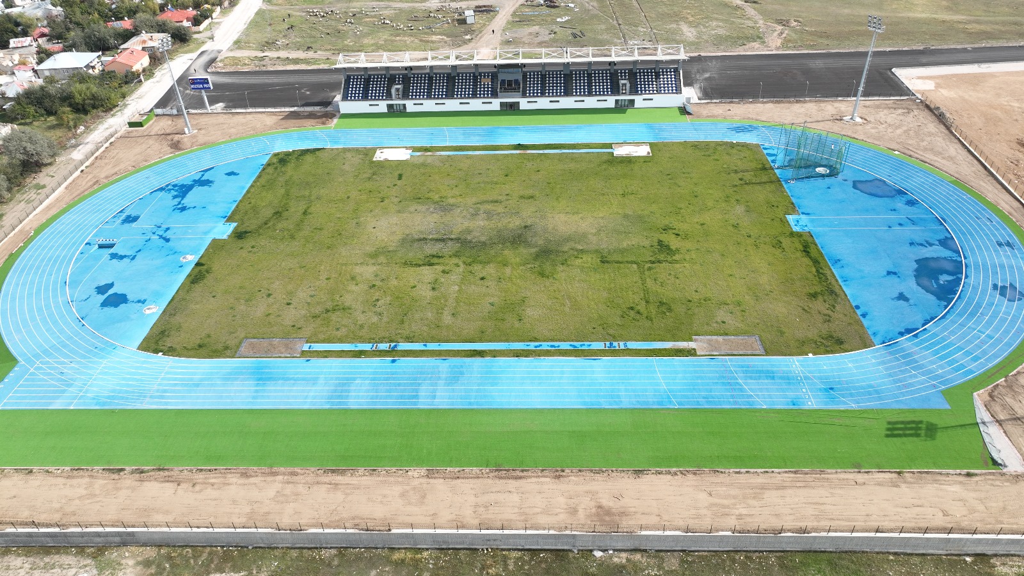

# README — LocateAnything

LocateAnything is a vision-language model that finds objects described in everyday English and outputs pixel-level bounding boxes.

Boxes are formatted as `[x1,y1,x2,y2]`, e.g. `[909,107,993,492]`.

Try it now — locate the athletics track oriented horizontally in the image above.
[0,122,1024,409]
